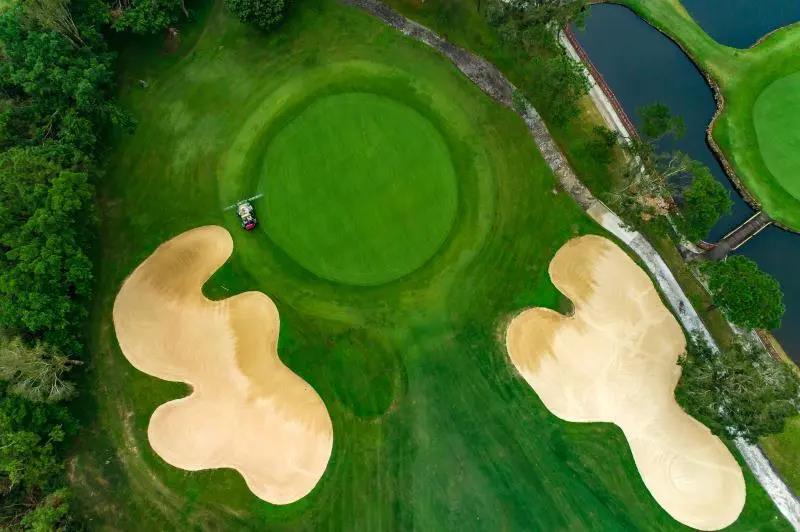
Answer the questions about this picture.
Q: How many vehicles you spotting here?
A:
1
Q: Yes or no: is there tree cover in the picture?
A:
Yes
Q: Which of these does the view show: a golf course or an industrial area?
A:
golf course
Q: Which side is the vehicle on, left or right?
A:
left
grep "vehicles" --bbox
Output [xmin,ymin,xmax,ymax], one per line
[222,195,260,227]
